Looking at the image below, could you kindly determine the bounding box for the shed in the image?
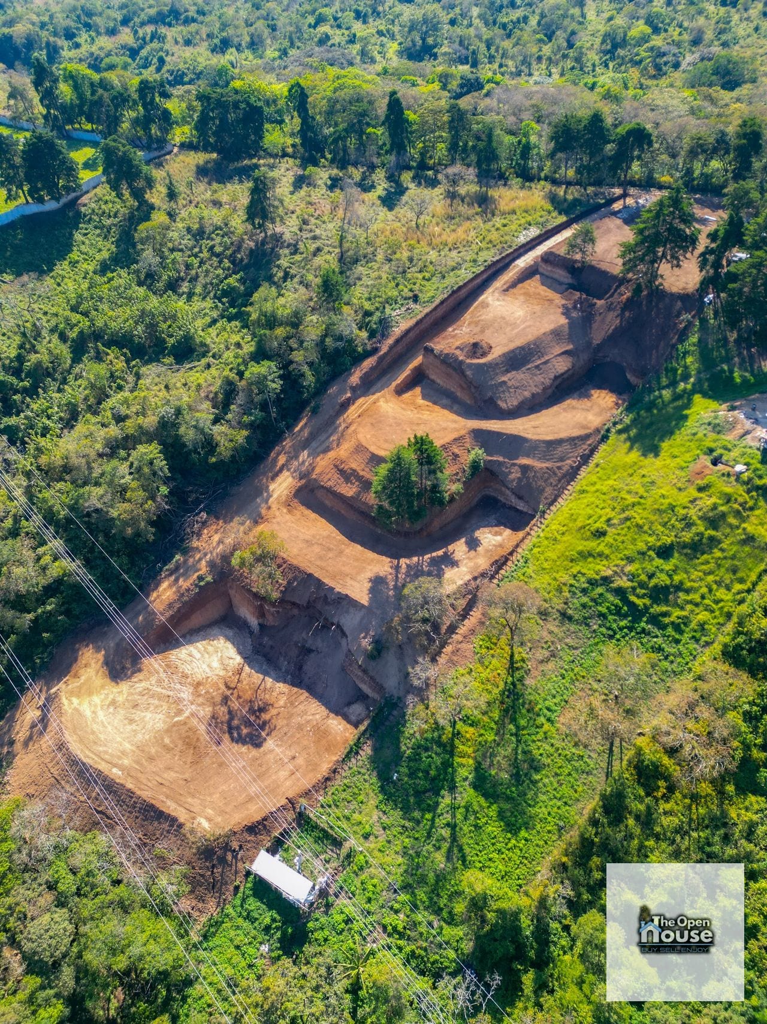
[245,850,313,923]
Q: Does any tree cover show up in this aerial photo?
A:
Yes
